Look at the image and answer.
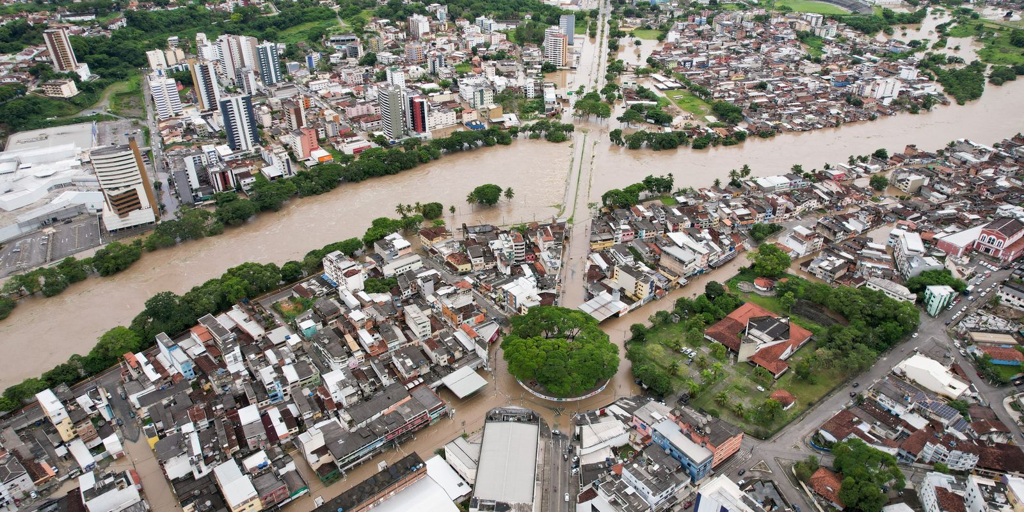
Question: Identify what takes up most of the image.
buildings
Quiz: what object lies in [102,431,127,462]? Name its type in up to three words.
house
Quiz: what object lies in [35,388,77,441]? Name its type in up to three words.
building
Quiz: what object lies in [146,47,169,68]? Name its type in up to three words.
building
